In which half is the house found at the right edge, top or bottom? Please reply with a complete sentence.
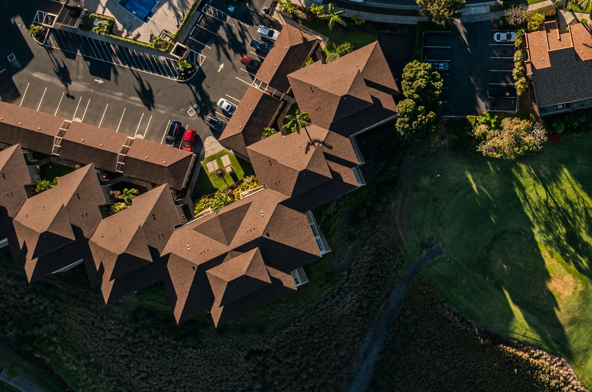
It is in the top half that the house found at the right edge appears.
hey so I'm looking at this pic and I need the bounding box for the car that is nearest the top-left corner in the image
[166,121,183,146]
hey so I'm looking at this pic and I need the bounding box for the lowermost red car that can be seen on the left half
[183,129,197,151]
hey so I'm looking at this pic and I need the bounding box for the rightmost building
[526,17,592,113]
